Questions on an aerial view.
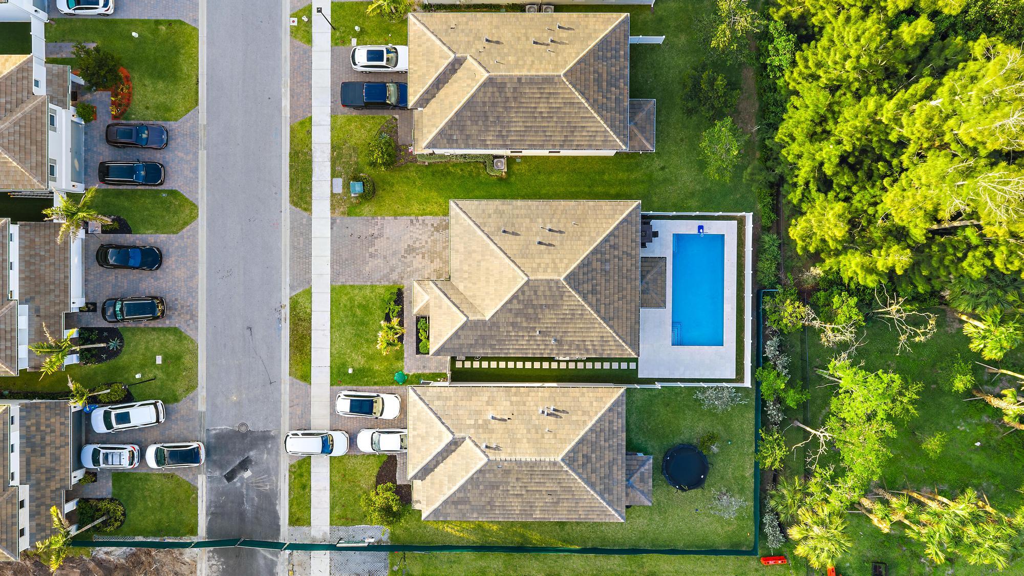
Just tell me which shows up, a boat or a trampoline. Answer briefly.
trampoline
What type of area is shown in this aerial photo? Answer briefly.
residential area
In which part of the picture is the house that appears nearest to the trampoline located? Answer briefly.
bottom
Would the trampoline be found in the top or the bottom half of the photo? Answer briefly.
bottom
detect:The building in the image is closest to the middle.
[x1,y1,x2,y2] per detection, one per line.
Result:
[411,198,668,359]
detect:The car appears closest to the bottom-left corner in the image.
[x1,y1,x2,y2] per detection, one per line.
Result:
[82,442,143,472]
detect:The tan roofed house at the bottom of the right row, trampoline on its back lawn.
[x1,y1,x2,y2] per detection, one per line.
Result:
[406,384,654,523]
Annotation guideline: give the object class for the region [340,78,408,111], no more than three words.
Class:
truck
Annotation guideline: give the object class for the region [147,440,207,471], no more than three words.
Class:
car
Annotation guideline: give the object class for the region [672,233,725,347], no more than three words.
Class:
swimming pool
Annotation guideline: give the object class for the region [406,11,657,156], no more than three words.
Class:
house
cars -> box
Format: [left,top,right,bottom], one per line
[147,440,207,471]
[335,390,402,422]
[102,294,169,325]
[105,120,172,150]
[357,427,406,457]
[57,0,118,17]
[98,158,168,188]
[94,399,167,435]
[284,428,350,459]
[96,242,166,272]
[82,442,143,472]
[350,42,406,74]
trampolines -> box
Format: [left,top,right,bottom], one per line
[661,443,717,498]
